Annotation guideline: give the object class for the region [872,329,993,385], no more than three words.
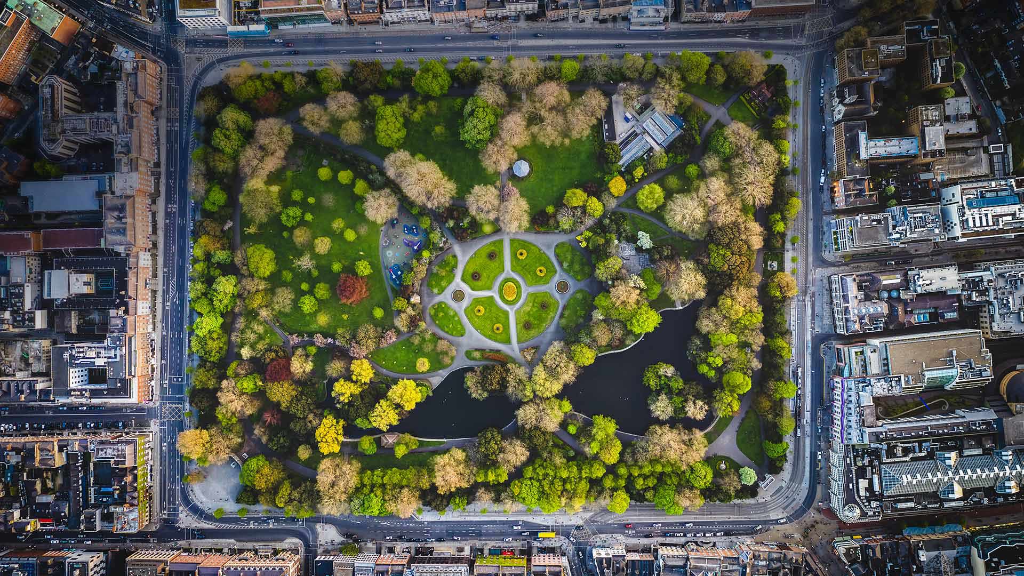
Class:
building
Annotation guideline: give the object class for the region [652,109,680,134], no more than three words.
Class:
greenhouse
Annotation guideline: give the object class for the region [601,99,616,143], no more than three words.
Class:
shed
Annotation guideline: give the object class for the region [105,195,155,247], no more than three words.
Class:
house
